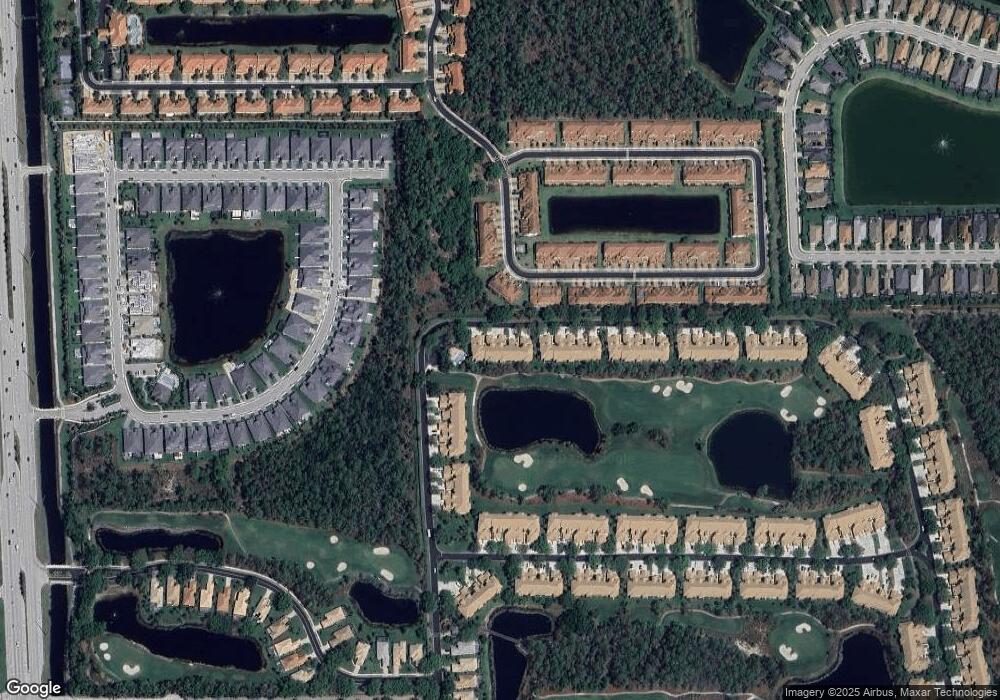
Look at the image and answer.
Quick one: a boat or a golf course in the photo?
golf course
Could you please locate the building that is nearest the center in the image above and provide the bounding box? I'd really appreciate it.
[471,336,532,363]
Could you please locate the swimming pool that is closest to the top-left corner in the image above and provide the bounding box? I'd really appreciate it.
[127,14,142,45]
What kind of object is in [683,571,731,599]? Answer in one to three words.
building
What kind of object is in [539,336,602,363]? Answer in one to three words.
building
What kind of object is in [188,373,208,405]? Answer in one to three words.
house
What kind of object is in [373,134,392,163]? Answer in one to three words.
house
